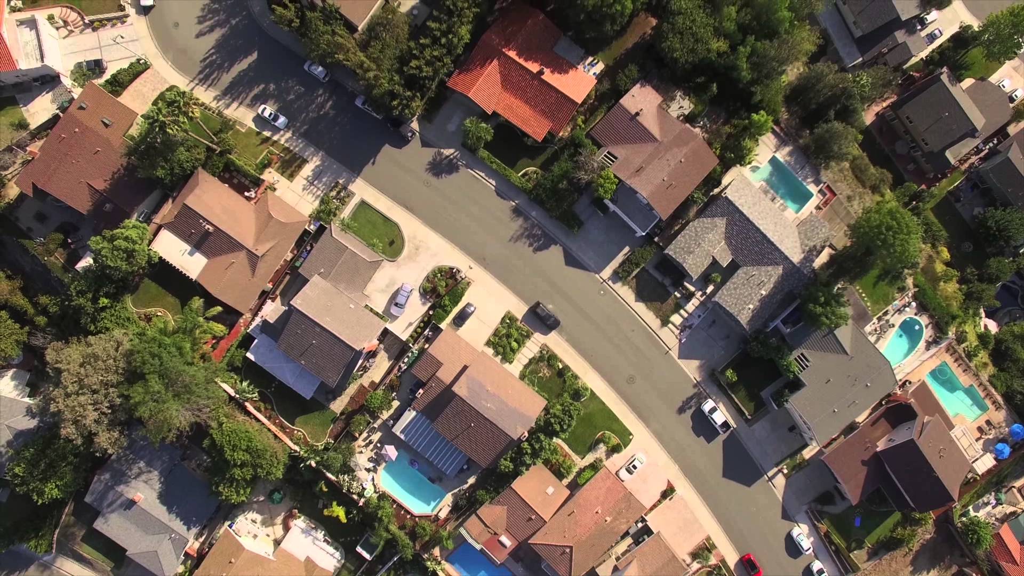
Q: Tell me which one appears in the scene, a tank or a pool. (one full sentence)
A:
This aerial view contains a pool.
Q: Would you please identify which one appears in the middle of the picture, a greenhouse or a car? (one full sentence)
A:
You can see a car in the middle of the picture.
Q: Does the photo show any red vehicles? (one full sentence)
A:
Yes, a red vehicle appears in the view.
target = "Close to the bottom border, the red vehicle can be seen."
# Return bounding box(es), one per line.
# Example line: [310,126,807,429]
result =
[739,551,763,576]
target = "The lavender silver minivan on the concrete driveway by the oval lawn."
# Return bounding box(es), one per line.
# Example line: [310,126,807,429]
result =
[390,280,413,318]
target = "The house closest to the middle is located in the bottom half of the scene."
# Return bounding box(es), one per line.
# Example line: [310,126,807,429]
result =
[393,326,545,475]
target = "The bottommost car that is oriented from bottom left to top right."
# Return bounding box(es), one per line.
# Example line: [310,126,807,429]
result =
[616,451,648,483]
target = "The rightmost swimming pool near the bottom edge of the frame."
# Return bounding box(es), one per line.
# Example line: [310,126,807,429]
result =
[444,535,514,576]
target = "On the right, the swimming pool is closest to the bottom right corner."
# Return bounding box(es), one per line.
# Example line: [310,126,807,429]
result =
[925,359,993,425]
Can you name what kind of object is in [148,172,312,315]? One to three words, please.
house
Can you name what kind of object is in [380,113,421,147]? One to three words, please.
truck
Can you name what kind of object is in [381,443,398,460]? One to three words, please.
umbrella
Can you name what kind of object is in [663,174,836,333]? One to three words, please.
house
